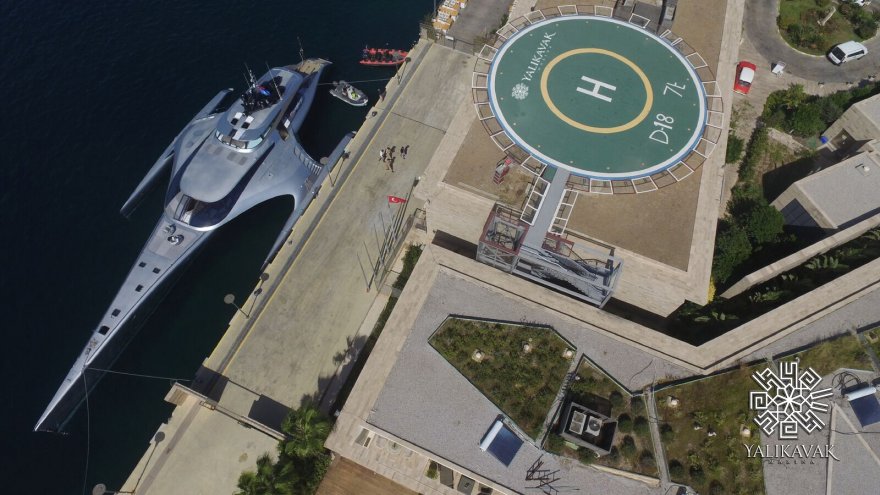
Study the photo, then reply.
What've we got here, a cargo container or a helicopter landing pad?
helicopter landing pad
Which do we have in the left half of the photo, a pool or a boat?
boat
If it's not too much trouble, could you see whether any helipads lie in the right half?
Yes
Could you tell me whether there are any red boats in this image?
Yes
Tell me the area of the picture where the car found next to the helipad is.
top right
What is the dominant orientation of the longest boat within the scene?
at an angle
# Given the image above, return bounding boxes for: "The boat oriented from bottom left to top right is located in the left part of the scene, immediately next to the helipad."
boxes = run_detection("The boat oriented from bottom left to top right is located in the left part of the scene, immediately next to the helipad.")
[31,41,358,431]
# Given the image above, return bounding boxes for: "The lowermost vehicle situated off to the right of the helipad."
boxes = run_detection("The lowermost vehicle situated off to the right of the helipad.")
[734,58,760,95]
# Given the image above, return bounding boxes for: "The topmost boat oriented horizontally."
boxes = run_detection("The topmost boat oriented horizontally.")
[358,46,410,67]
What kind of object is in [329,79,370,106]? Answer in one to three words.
boat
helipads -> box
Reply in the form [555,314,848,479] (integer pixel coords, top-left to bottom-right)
[472,4,724,194]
